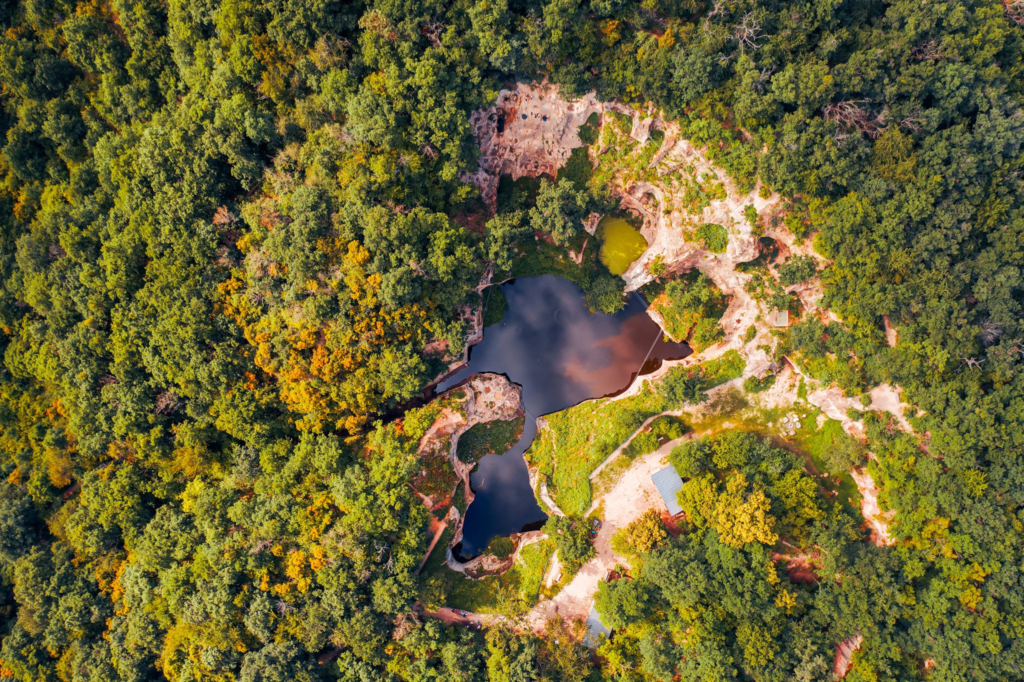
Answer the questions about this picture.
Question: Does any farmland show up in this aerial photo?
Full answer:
No, the scene doesn't show any farmland.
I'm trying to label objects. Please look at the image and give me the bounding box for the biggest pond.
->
[596,216,646,275]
